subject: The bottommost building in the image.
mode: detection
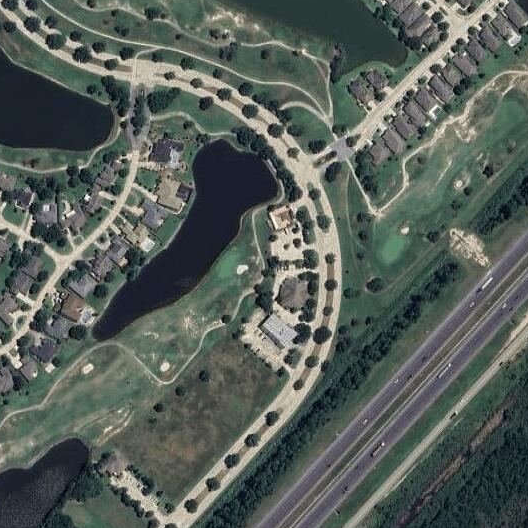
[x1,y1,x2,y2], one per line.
[102,451,129,479]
